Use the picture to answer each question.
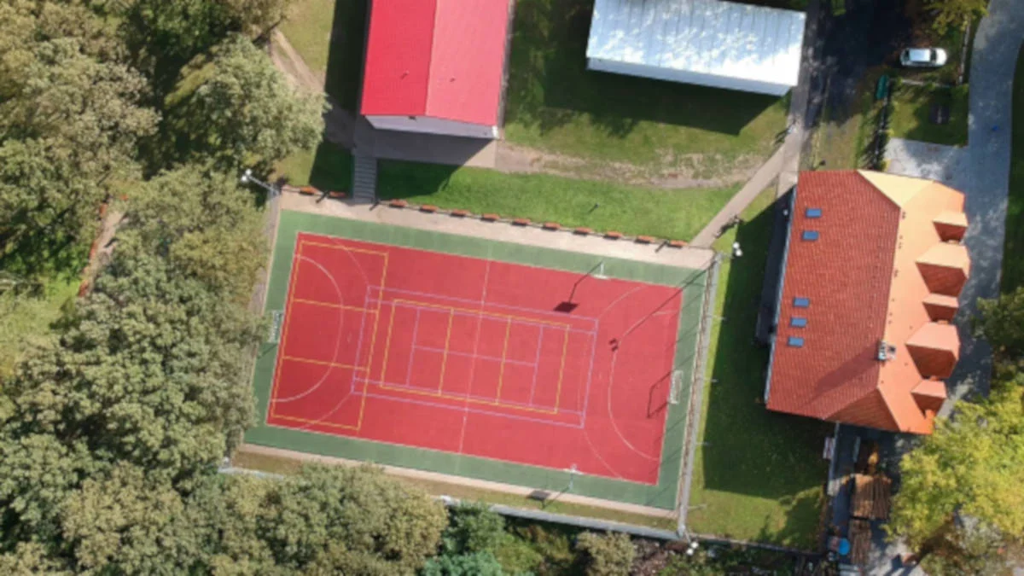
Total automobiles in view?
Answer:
1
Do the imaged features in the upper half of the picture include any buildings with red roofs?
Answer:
Yes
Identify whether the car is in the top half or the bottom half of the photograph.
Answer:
top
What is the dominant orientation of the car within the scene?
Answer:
from left to right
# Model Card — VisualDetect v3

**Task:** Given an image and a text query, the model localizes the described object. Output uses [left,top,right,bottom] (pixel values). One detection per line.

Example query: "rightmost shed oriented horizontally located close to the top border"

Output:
[587,0,810,94]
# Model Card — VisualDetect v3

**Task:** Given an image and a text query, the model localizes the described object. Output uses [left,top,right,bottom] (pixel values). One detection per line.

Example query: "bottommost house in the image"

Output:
[762,170,974,434]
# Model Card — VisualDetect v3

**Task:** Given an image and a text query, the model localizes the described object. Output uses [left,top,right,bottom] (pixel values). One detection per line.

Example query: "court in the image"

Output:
[242,208,709,510]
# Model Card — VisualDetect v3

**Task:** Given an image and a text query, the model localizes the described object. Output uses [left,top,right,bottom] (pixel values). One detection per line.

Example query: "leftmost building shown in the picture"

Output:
[360,0,510,136]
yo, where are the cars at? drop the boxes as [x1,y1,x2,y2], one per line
[902,44,949,67]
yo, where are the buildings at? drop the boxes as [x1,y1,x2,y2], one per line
[587,0,810,94]
[360,0,510,136]
[762,170,974,434]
